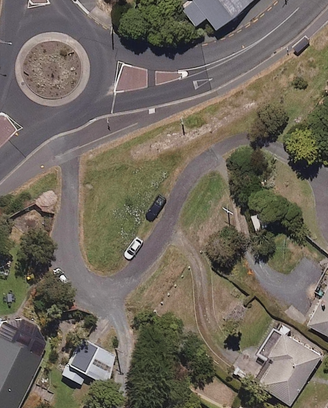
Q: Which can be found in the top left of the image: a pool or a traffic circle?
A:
traffic circle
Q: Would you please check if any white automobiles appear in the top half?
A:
No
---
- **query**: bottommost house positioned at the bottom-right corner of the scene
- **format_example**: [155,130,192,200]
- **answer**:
[256,325,322,408]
